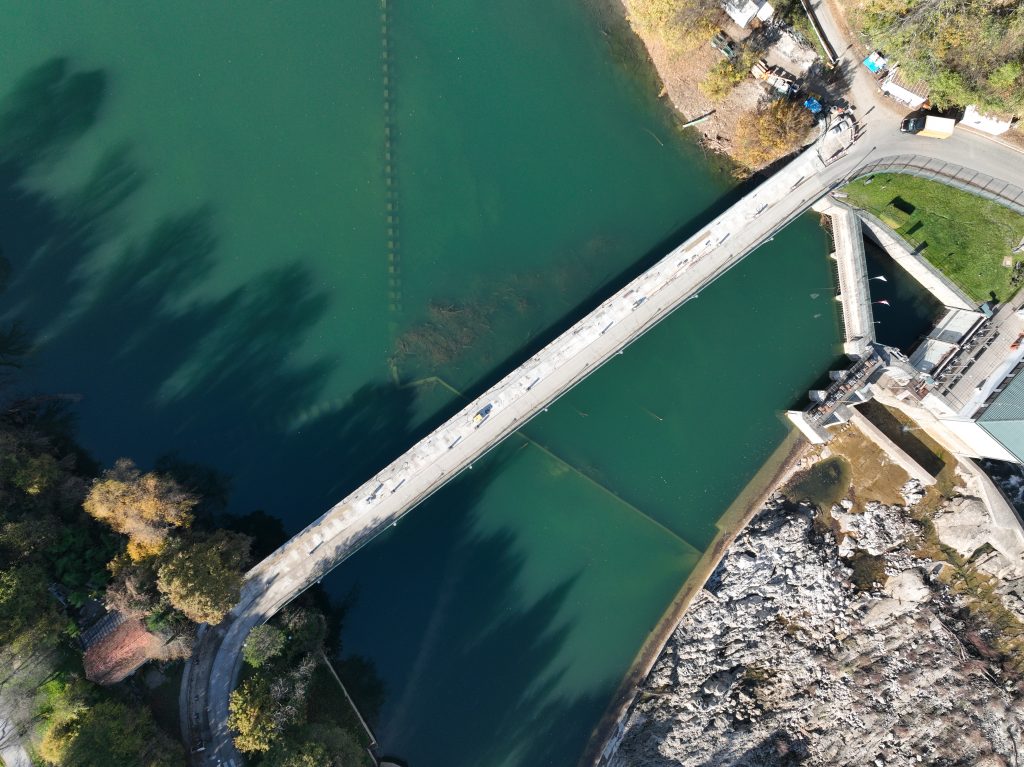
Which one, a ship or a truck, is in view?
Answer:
truck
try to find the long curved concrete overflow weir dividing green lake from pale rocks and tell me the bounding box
[579,427,811,767]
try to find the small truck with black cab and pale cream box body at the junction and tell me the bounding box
[900,111,965,138]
